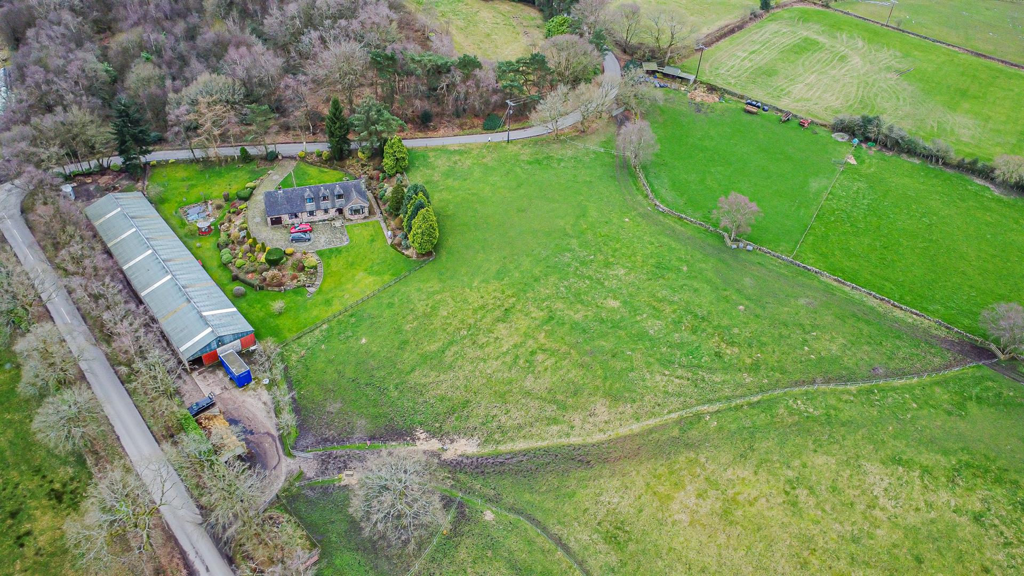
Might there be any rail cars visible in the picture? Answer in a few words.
No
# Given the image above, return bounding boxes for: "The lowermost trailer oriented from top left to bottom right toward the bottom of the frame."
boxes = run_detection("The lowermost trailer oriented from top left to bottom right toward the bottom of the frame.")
[219,348,253,386]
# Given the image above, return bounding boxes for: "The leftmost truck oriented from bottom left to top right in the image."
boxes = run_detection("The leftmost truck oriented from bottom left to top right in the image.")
[188,395,221,421]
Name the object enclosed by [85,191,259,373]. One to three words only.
barn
